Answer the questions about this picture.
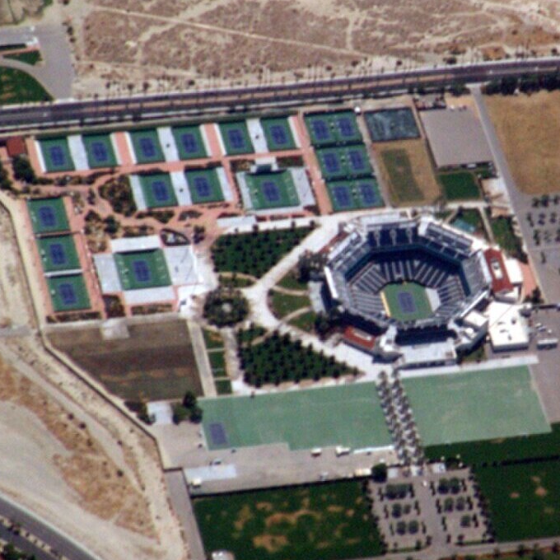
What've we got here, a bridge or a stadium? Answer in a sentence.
This aerial view contains a stadium.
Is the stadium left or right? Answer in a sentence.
The stadium appears in the right half of the scene.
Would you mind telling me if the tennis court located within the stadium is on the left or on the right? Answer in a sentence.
The tennis court located within the stadium sits on the right side.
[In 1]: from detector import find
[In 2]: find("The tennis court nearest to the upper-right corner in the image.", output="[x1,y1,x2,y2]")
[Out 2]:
[363,106,419,141]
